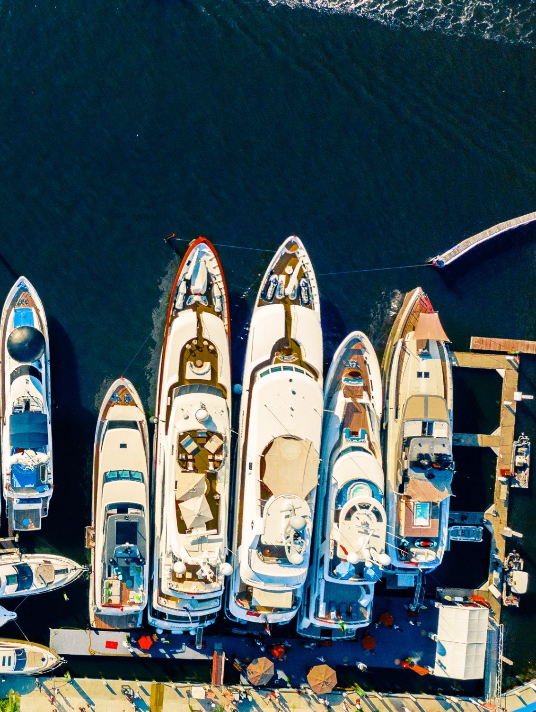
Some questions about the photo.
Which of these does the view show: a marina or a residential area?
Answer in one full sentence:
What you see here is a marina.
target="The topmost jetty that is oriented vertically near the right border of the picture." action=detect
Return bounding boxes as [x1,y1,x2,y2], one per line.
[447,352,519,624]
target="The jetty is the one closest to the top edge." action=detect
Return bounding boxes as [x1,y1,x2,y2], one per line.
[469,335,536,355]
